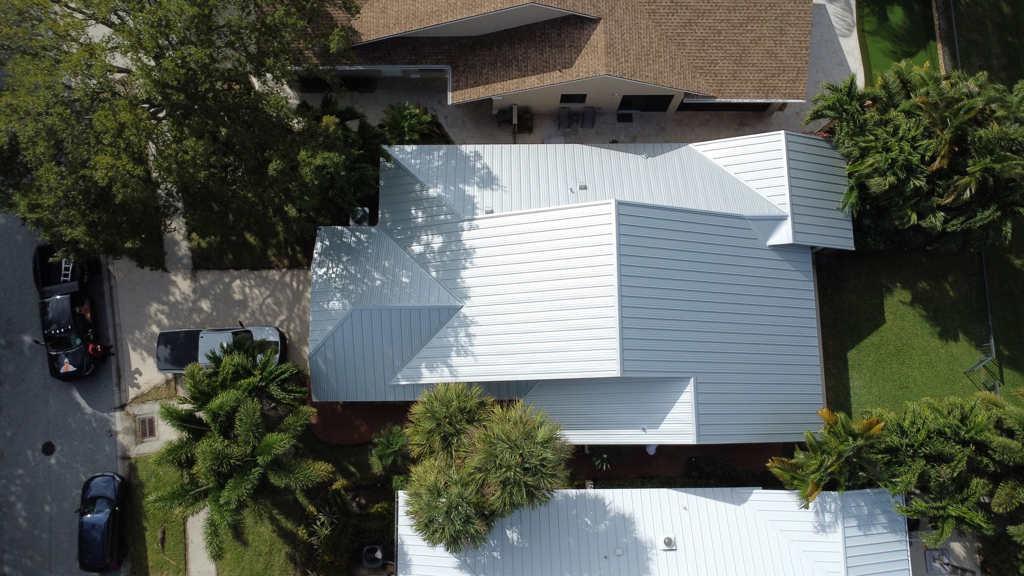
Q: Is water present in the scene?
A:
No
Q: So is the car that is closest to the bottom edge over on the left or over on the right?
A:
left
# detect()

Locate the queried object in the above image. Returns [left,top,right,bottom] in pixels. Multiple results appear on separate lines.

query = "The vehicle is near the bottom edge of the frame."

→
[70,472,130,576]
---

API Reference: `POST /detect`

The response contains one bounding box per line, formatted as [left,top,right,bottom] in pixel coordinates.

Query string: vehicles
[70,472,130,576]
[29,240,101,382]
[152,320,289,380]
